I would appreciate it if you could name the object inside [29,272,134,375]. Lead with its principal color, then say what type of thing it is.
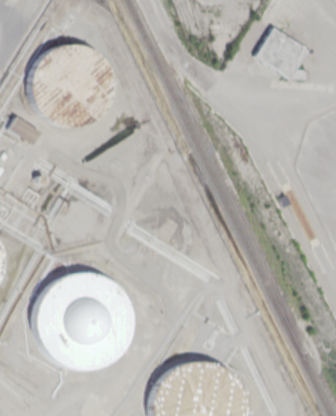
white storage tank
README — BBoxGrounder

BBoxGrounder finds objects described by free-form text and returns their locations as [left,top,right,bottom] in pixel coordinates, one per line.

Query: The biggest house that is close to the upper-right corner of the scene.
[254,26,309,82]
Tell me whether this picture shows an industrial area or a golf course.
industrial area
